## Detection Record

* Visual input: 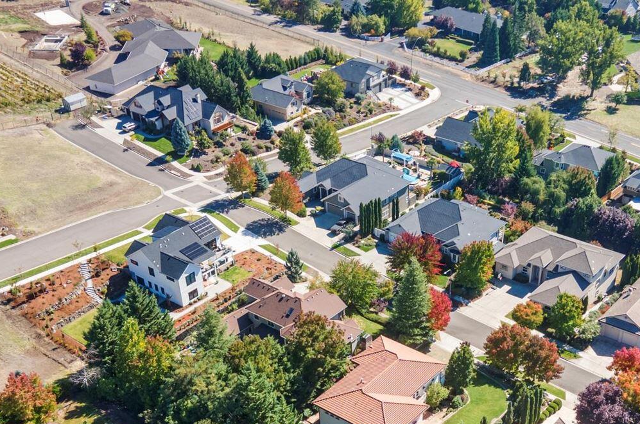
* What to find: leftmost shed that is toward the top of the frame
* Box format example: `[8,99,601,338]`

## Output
[55,89,90,112]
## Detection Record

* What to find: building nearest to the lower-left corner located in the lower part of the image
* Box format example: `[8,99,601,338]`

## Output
[119,206,245,307]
